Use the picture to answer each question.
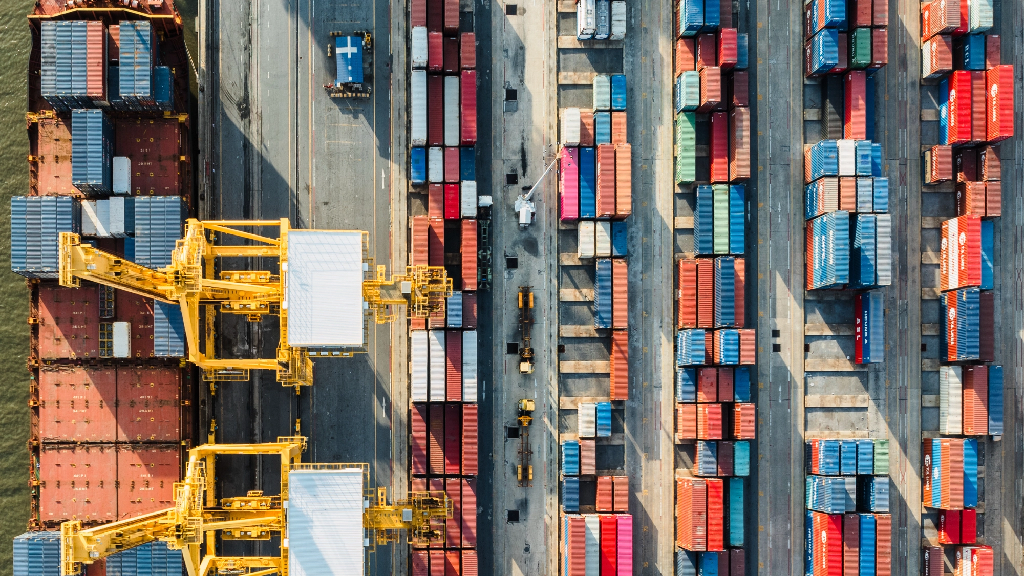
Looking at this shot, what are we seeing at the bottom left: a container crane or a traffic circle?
container crane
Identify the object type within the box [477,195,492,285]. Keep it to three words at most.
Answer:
vehicle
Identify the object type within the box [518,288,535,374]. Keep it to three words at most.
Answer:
vehicle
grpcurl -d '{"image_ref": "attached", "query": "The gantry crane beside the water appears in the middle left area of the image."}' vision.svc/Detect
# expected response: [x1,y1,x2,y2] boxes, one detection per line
[53,216,455,397]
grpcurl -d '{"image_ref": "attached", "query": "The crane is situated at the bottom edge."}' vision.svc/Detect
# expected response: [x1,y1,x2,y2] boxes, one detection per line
[54,421,456,576]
